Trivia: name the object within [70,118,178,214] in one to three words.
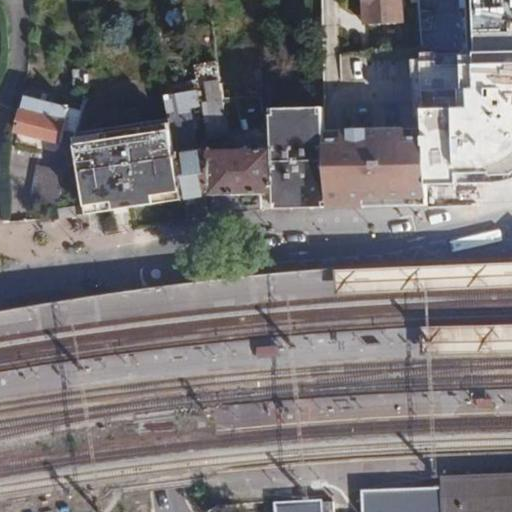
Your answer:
building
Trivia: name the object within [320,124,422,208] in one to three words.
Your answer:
house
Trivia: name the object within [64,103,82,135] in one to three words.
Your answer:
shed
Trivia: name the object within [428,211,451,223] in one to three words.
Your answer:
vehicle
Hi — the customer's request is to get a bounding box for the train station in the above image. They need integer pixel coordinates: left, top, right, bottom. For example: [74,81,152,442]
[0,262,512,506]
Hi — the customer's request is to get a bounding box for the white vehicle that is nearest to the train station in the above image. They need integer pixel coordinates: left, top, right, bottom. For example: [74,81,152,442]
[448,228,506,252]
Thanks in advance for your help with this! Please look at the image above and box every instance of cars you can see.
[390,220,412,230]
[159,488,170,510]
[263,236,284,246]
[352,60,363,80]
[55,504,77,512]
[428,211,451,223]
[284,232,306,244]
